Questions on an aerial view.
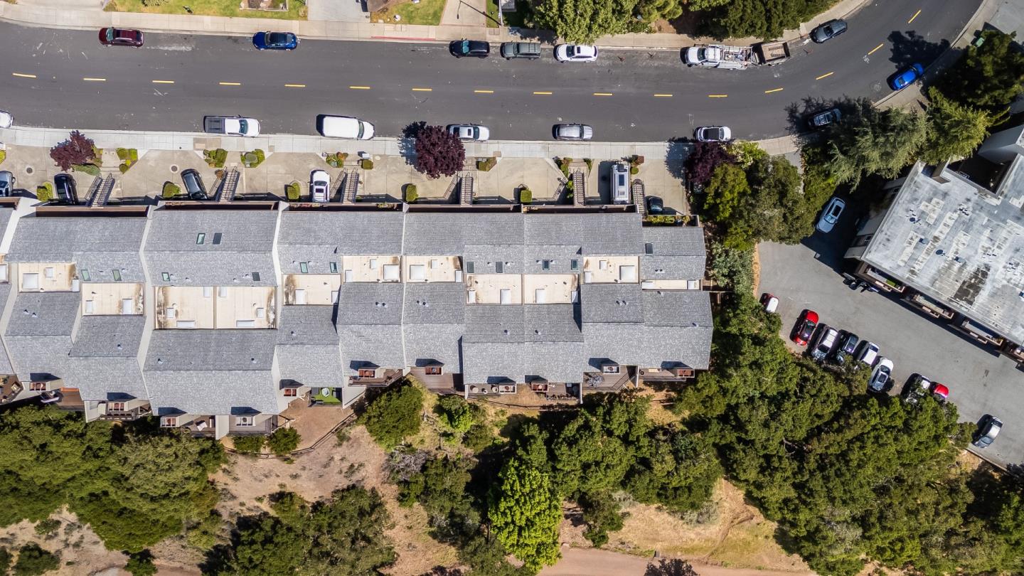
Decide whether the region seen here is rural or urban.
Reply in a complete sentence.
The area is urban.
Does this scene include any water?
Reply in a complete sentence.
No, there is no water in the image.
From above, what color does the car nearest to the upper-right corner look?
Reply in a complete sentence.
The car nearest to the upper-right corner looks blue in the image.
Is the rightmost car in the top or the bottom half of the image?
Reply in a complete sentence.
The rightmost car is in the bottom half of the image.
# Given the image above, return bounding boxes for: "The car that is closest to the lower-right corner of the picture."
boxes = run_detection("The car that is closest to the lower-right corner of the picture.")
[971,411,1003,450]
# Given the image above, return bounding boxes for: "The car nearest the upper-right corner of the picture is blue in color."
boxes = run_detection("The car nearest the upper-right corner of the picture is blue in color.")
[885,62,925,92]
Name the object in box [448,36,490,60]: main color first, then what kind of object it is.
black car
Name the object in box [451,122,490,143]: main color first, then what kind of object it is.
white car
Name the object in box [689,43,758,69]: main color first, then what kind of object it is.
white truck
